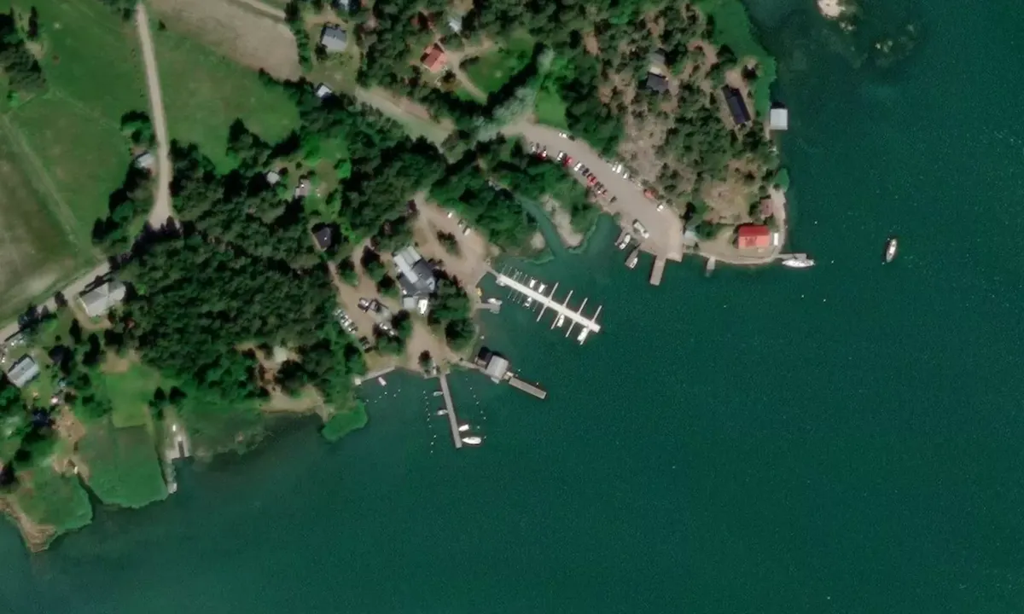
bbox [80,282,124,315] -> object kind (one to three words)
house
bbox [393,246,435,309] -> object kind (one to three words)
building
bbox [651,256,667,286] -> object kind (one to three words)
pier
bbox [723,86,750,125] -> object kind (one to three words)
house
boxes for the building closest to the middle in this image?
[475,351,510,382]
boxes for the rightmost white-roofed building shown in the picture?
[770,109,787,130]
